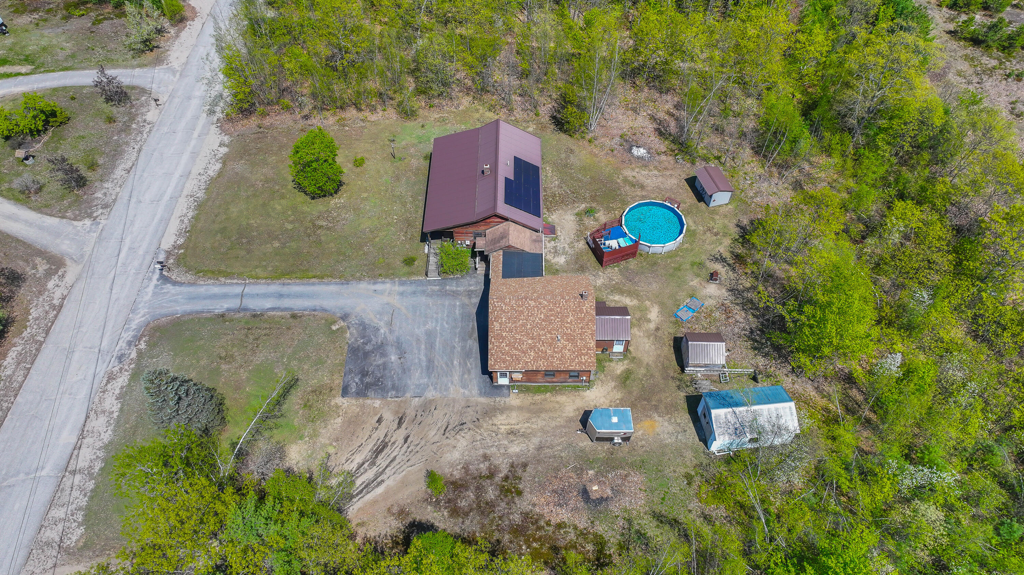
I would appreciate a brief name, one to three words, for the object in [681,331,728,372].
shed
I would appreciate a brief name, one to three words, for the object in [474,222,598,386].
building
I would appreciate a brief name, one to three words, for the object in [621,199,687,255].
swimming pool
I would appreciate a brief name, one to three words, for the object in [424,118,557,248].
house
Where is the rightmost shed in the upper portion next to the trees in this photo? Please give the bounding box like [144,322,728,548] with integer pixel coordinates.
[697,163,737,207]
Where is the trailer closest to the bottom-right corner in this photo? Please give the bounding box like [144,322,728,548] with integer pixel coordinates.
[576,408,634,448]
